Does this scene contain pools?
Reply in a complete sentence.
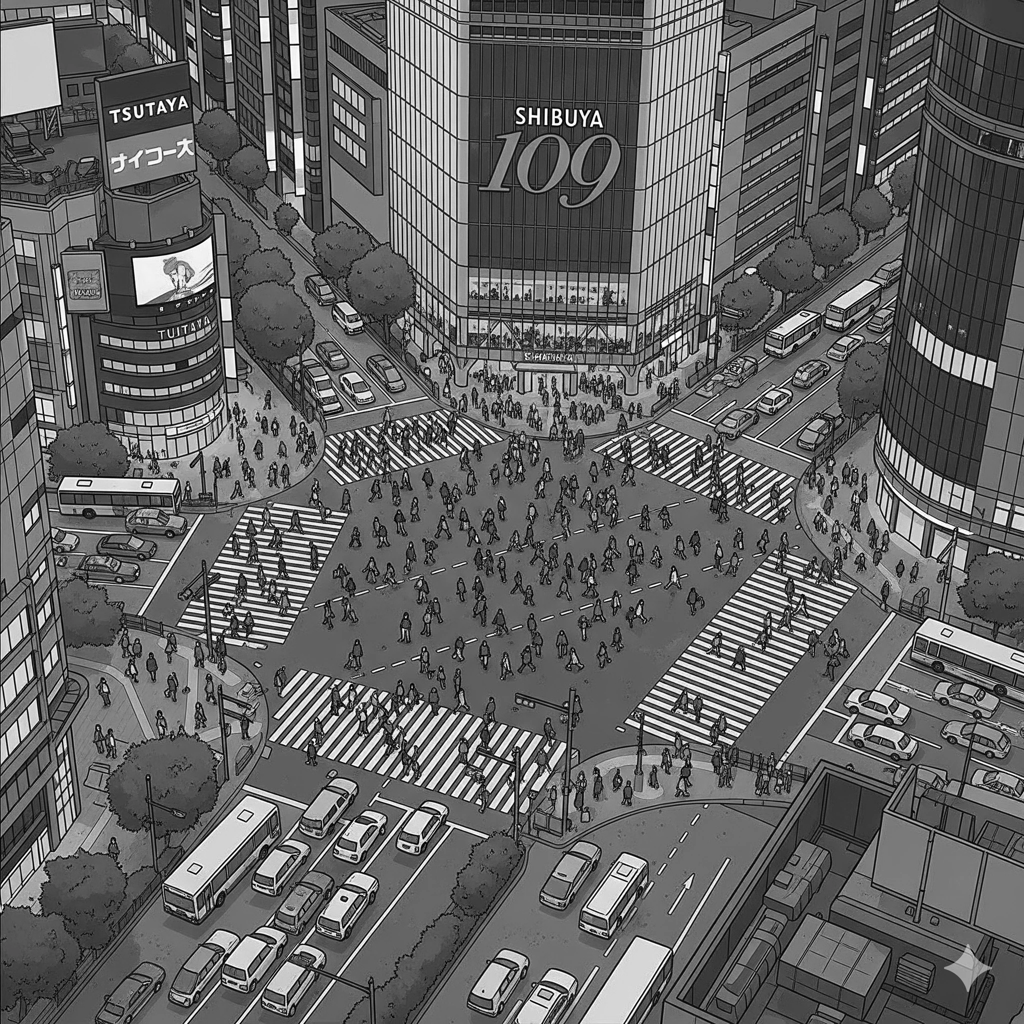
No, I can't see a single pool in this photo.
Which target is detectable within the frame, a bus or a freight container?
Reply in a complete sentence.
It is a bus that can be seen here.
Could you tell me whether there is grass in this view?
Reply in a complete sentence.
No, the picture contains no grass.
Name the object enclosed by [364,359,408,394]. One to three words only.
car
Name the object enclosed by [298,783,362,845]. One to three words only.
van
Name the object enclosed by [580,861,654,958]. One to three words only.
vehicle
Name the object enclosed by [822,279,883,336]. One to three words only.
bus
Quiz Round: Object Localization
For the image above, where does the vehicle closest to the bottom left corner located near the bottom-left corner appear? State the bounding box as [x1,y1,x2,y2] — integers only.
[93,969,169,1024]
